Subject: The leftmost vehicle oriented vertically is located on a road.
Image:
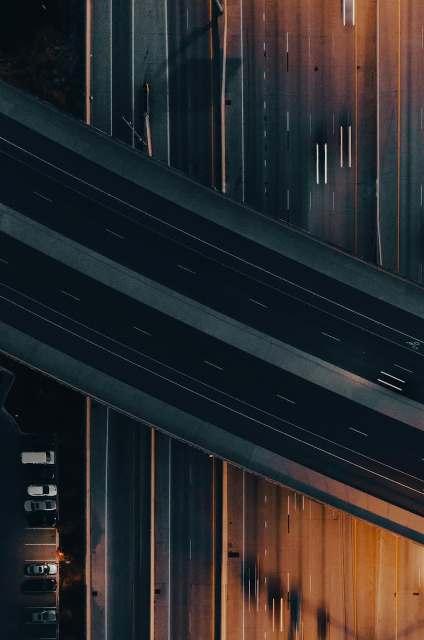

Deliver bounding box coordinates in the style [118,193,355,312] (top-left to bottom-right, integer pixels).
[247,565,261,595]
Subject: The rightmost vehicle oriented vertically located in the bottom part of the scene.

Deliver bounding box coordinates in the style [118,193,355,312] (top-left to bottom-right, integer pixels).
[315,611,329,640]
